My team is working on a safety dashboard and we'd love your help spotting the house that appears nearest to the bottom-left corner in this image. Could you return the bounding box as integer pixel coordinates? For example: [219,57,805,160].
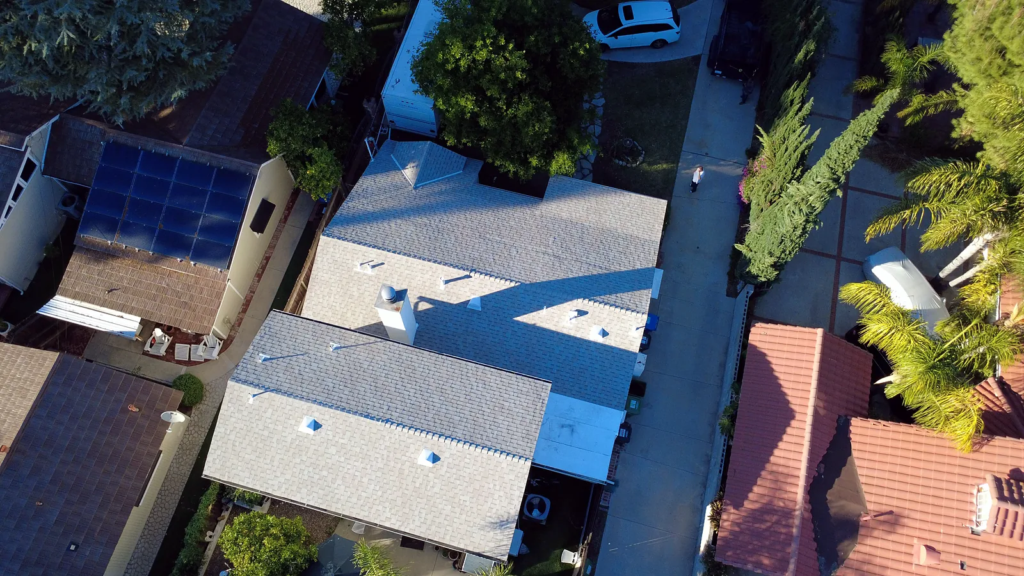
[0,340,192,576]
